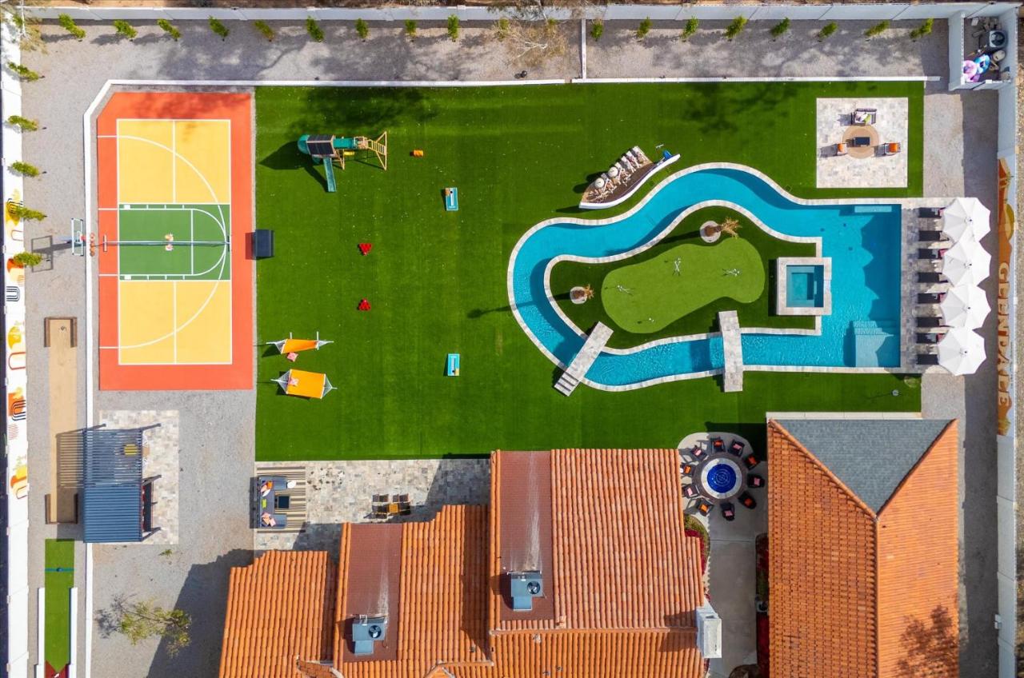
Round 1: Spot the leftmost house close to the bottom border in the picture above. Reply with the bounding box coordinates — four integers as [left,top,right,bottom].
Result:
[219,449,722,678]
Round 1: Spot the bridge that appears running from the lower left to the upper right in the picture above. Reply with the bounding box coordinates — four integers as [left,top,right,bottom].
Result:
[556,322,613,395]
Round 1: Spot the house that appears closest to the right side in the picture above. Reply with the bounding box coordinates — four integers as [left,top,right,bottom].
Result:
[766,420,961,678]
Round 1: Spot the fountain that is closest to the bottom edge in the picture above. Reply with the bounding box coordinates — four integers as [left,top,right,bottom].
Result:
[703,458,743,498]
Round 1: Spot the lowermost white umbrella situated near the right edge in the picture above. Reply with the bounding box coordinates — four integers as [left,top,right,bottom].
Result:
[936,329,987,376]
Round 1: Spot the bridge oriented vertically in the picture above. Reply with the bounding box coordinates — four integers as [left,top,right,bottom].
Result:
[717,311,742,391]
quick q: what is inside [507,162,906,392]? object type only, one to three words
swimming pool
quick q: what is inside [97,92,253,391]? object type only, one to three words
sports court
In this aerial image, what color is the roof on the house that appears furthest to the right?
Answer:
orange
